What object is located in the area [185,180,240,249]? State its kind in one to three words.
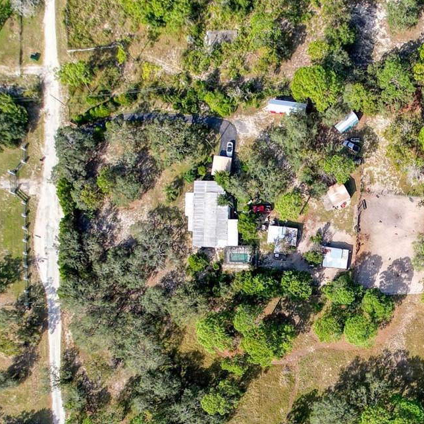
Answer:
house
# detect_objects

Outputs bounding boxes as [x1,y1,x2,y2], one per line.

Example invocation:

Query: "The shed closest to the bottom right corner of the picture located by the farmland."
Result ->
[323,247,349,270]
